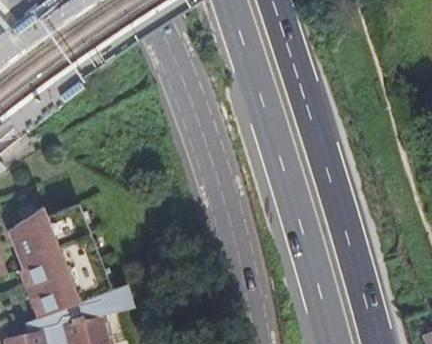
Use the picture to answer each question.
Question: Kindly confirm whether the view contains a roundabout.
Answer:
No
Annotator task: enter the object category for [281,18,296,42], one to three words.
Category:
car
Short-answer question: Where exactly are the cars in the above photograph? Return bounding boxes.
[366,284,380,308]
[244,268,258,292]
[164,21,175,33]
[281,18,296,42]
[288,232,303,256]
